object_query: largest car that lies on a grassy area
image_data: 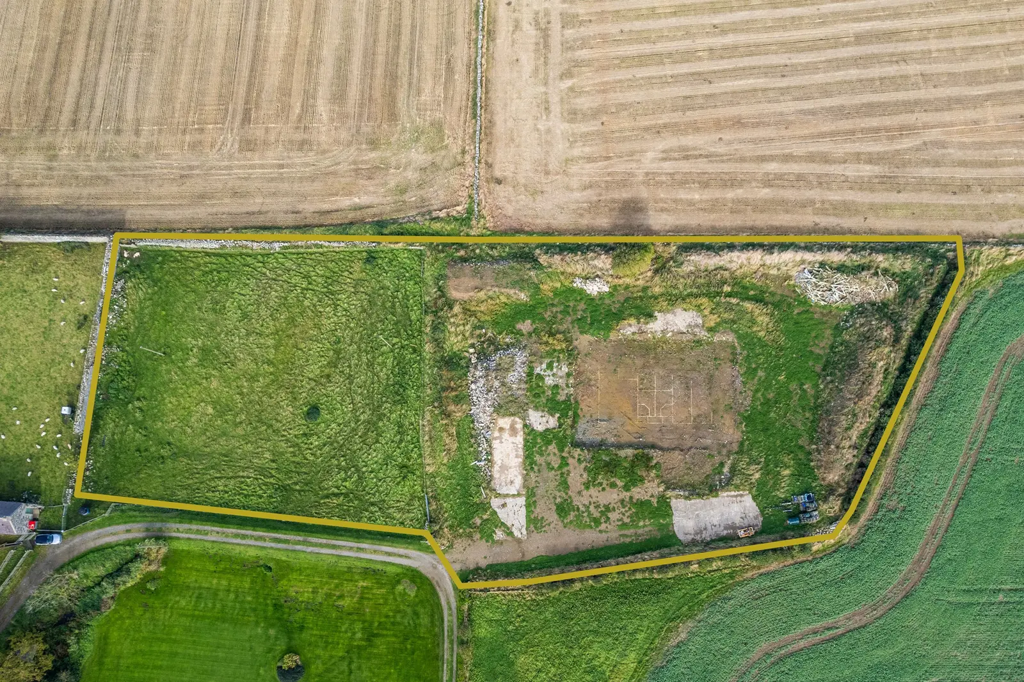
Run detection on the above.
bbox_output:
[34,532,62,546]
